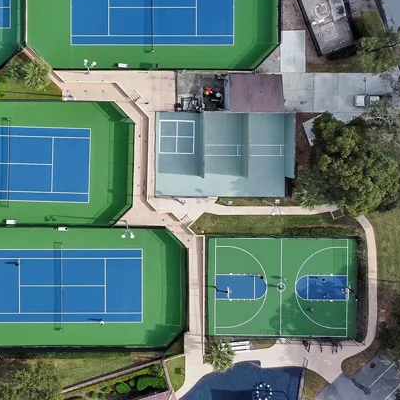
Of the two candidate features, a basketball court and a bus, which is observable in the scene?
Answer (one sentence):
This aerial view contains a basketball court.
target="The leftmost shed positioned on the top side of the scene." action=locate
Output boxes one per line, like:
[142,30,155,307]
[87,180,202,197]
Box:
[223,73,285,112]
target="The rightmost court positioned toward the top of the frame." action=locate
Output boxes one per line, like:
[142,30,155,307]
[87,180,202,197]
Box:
[155,109,297,198]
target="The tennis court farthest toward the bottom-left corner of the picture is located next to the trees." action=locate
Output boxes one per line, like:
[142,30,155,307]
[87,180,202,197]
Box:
[0,226,186,346]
